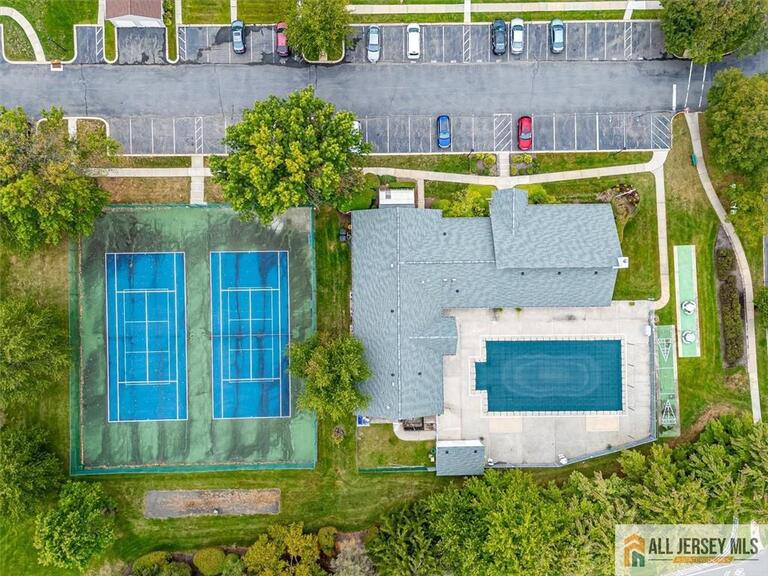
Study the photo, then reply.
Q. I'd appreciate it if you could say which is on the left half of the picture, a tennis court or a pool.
tennis court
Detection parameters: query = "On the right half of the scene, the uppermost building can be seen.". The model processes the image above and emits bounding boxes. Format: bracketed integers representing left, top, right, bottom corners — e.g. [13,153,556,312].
[352,188,629,421]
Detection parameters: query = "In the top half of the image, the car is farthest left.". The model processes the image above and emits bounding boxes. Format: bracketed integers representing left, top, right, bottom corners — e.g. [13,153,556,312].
[230,22,248,56]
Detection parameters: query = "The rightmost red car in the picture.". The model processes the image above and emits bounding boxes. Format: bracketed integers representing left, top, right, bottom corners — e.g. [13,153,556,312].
[516,116,533,152]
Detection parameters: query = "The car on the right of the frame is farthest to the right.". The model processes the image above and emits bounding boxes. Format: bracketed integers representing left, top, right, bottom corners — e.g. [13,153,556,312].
[548,21,566,56]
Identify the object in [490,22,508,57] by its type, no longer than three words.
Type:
car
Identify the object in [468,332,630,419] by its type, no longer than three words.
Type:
swimming pool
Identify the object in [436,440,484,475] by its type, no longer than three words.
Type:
shed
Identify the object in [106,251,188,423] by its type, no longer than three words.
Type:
tennis court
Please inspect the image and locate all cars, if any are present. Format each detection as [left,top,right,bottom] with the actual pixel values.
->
[405,24,422,62]
[274,24,290,58]
[516,116,533,152]
[365,26,382,64]
[508,21,526,56]
[490,22,508,57]
[230,22,248,56]
[548,21,566,56]
[435,116,452,149]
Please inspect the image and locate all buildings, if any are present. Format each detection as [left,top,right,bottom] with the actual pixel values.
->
[105,0,166,28]
[352,188,629,421]
[436,440,484,475]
